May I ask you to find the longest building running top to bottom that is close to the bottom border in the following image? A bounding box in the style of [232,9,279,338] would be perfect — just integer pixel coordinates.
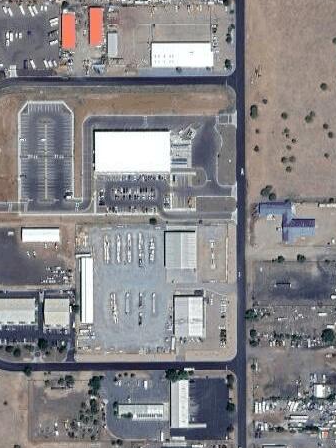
[172,381,189,428]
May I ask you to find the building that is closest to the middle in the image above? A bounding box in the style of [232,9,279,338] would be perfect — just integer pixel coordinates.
[166,232,196,268]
